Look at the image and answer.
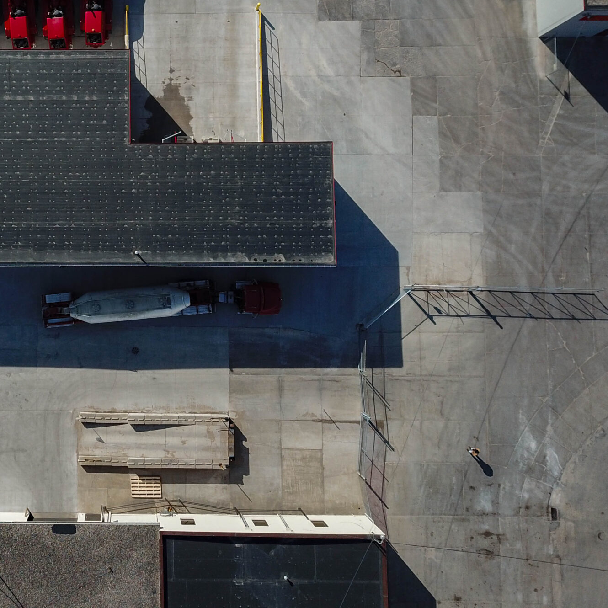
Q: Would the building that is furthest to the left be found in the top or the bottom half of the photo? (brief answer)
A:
bottom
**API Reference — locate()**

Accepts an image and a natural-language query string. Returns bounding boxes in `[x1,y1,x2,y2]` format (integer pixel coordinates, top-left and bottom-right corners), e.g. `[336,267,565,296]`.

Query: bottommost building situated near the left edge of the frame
[0,498,162,608]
